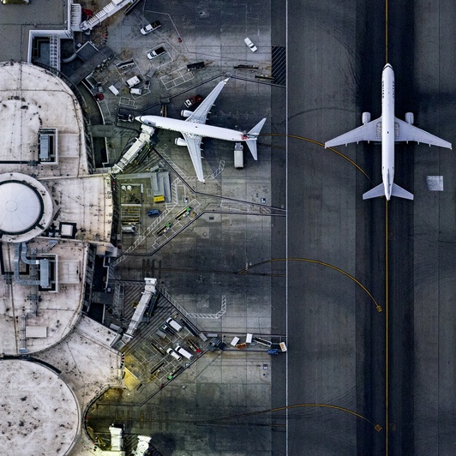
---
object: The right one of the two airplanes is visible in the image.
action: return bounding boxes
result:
[324,64,453,199]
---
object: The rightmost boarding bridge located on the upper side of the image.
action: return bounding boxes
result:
[109,119,161,176]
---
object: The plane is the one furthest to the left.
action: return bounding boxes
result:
[137,76,264,180]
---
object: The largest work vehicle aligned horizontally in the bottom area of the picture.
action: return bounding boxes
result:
[203,334,232,352]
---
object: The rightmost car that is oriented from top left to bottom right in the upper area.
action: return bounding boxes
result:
[244,37,257,52]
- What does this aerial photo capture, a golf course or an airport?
airport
